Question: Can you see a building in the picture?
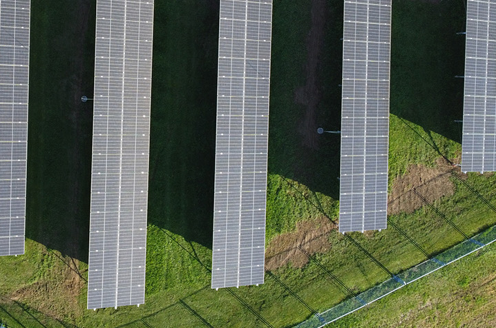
No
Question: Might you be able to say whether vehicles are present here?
No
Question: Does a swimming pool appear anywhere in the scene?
No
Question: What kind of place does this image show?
solar farm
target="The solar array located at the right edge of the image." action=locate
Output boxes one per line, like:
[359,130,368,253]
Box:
[451,0,496,175]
